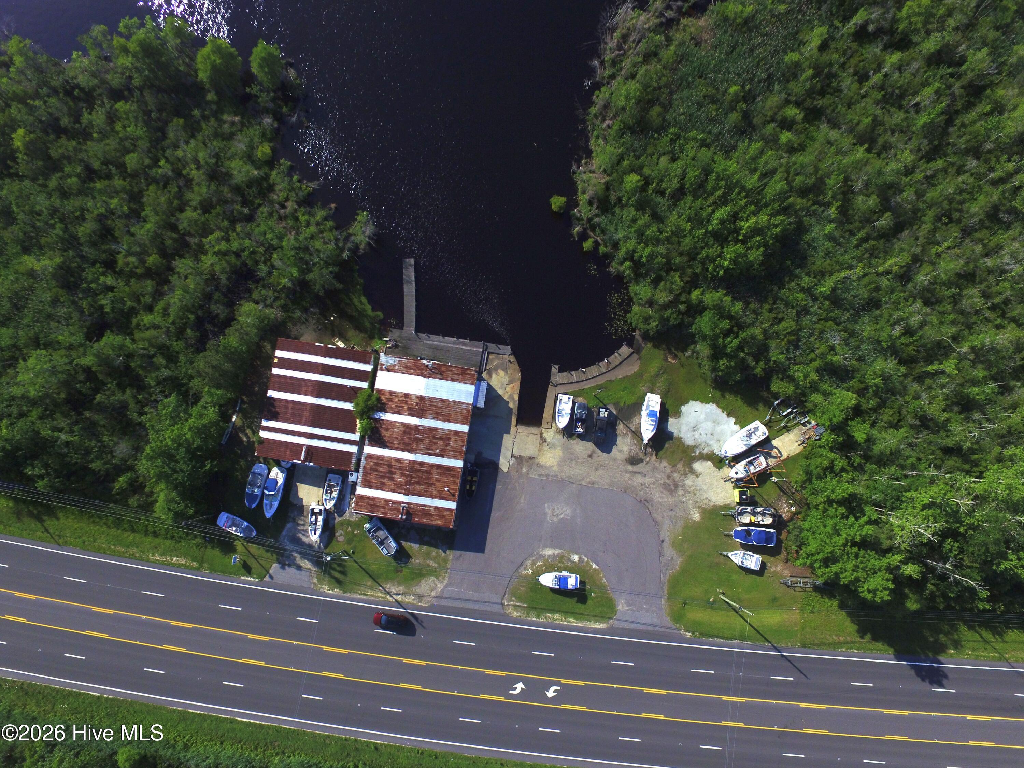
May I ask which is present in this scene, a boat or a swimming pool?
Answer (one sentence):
Visible in the photo is a boat.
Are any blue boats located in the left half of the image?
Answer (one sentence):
Yes, I can see a blue boat in the left half of the image.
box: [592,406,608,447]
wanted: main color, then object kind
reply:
black vehicle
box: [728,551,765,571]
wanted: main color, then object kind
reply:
white boat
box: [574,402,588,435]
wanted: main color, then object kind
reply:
black vehicle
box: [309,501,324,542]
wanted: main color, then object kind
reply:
white boat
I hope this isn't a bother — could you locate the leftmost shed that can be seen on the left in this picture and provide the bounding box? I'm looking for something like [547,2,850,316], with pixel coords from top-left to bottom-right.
[256,338,374,471]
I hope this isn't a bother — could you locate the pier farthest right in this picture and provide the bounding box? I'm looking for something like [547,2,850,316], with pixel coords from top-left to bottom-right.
[549,342,633,386]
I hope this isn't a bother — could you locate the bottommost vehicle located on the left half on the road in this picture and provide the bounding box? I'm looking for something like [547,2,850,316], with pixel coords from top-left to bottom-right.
[374,612,406,628]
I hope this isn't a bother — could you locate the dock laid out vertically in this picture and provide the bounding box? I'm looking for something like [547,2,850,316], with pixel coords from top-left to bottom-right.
[403,259,417,328]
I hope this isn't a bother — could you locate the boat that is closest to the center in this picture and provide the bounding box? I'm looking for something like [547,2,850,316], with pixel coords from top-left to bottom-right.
[555,394,573,429]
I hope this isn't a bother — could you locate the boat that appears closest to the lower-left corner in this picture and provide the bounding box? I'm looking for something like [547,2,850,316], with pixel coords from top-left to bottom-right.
[216,512,256,537]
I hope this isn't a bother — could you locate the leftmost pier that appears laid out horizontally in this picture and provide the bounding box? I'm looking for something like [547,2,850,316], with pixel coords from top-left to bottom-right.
[385,329,513,377]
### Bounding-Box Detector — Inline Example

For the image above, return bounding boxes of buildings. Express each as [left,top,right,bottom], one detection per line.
[352,355,477,529]
[256,338,374,471]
